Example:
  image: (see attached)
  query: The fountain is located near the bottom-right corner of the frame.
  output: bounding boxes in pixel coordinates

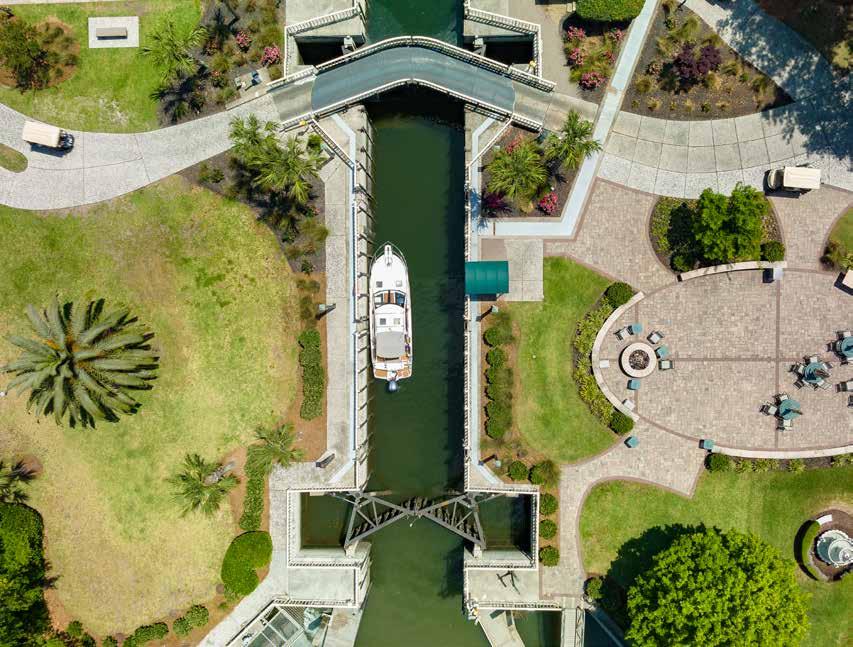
[814,529,853,566]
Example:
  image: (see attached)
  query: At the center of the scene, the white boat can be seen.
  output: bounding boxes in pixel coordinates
[370,241,413,391]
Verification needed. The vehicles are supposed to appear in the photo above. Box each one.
[22,121,80,158]
[764,168,821,195]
